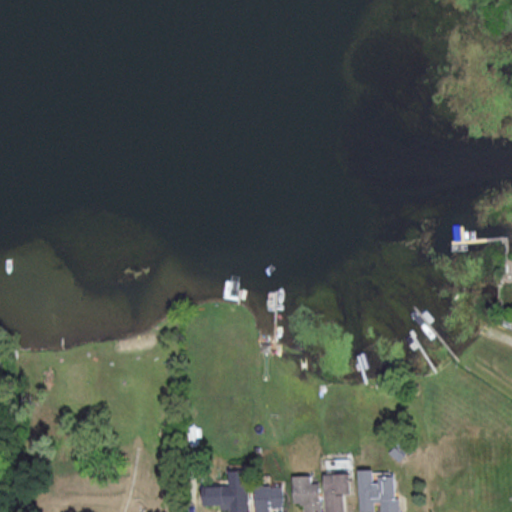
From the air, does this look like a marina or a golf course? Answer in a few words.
marina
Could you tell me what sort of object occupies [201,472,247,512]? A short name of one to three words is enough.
house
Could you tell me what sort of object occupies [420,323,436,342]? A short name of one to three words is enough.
boat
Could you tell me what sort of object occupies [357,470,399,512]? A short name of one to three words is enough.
house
